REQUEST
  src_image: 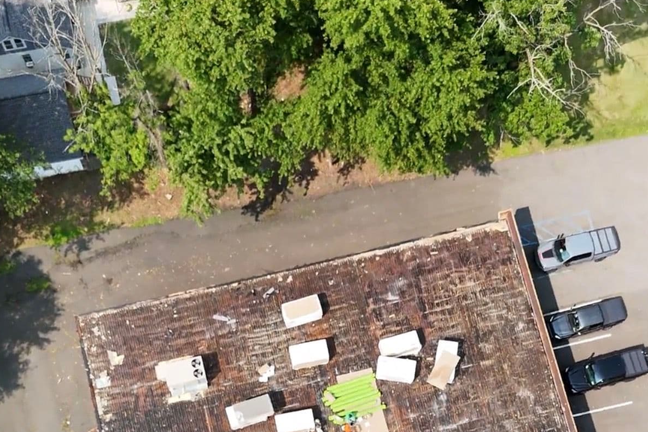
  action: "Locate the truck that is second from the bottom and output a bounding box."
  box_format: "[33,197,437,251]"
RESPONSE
[545,293,632,343]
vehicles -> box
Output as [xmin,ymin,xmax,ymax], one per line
[561,343,648,397]
[545,293,632,343]
[537,225,622,275]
